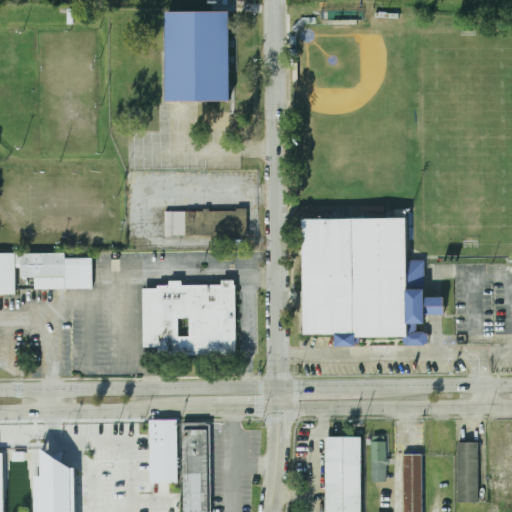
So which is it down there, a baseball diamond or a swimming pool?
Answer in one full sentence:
Visible in the photo is a baseball diamond.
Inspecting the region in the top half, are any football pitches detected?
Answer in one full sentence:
Yes, there is a football pitch in the top half.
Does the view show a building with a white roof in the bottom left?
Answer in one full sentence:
Yes, the scene does show a building with a white roof in the bottom left.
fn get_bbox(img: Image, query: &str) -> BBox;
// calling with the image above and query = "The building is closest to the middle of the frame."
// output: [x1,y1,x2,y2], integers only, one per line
[186,208,248,235]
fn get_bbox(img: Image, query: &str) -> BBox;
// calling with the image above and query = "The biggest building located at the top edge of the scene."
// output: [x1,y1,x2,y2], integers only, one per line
[165,12,231,101]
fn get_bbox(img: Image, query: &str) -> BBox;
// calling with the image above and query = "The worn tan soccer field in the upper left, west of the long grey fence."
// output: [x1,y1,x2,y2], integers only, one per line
[40,26,106,153]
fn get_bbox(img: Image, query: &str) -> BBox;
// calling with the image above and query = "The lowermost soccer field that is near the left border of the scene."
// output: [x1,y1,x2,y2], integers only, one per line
[2,166,120,240]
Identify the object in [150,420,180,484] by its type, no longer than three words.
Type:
building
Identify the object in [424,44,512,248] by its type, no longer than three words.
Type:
sports field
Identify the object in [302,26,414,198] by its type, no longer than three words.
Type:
baseball field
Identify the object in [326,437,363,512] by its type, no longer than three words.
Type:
building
